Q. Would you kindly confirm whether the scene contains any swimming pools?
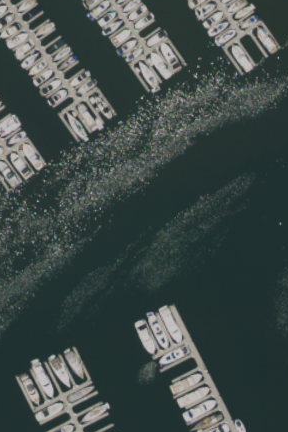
No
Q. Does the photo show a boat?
Yes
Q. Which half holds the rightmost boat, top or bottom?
top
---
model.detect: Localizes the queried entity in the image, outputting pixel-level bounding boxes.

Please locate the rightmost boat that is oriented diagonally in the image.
[258,29,279,56]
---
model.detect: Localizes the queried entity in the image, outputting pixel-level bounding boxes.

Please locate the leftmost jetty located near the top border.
[0,0,116,139]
